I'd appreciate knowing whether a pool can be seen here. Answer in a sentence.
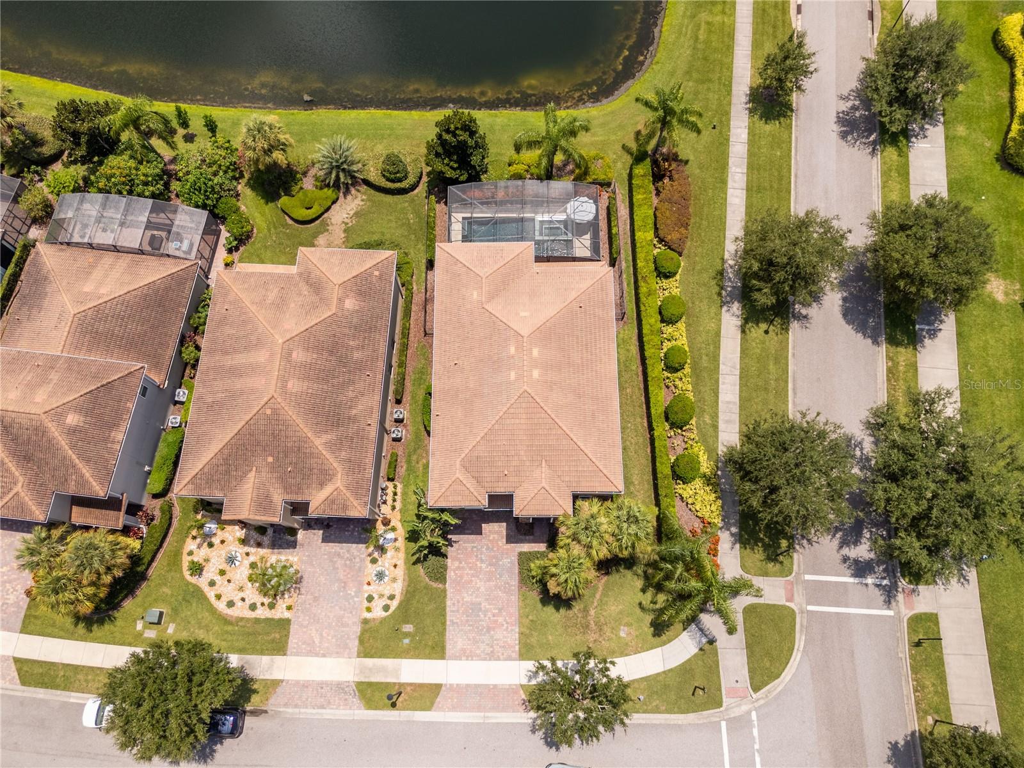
Yes, there's a pool down there.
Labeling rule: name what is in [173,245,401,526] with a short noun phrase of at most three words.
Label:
house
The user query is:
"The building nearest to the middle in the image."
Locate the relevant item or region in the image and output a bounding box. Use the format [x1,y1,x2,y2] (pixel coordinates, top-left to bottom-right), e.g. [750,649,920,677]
[425,241,625,527]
